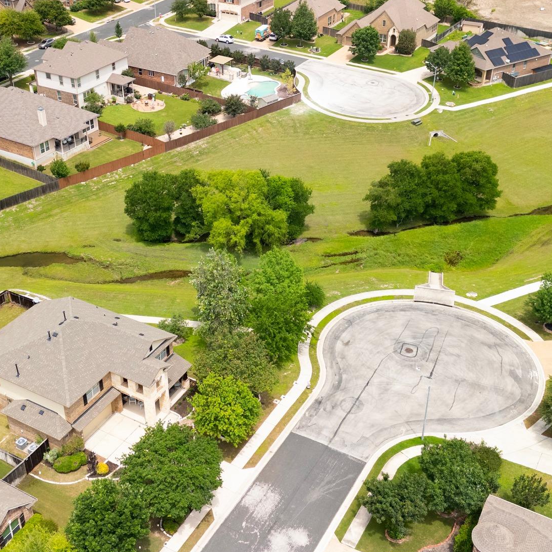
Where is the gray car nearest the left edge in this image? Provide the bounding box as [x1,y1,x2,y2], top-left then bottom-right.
[36,36,58,48]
